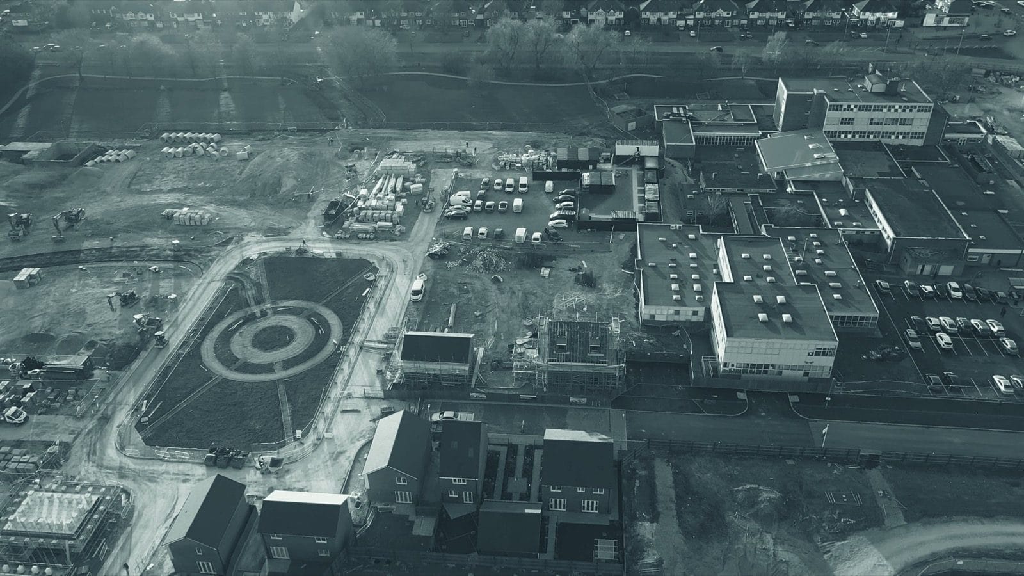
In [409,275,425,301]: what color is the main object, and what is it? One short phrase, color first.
white vehicle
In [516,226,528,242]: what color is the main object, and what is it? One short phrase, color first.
white vehicle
